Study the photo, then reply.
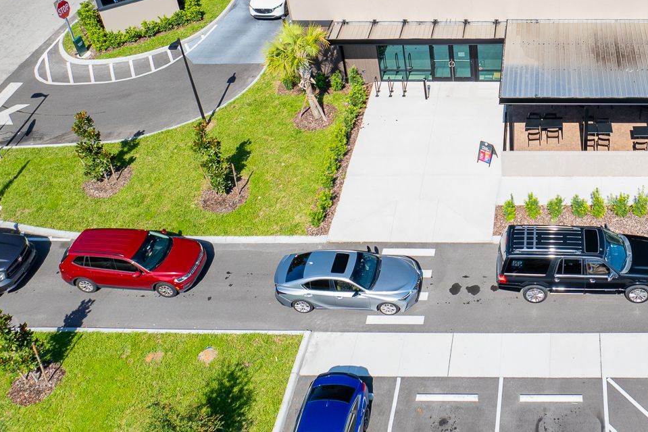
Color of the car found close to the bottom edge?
blue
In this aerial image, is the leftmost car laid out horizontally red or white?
red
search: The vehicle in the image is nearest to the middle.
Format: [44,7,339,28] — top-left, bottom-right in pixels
[271,242,420,313]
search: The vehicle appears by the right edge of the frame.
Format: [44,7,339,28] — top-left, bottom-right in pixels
[494,222,648,303]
